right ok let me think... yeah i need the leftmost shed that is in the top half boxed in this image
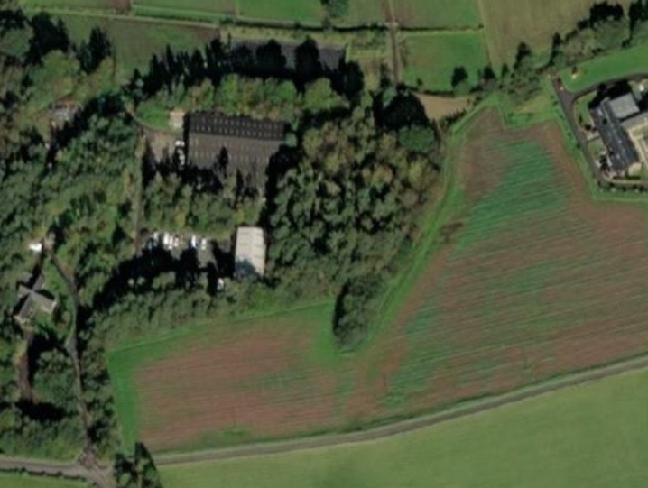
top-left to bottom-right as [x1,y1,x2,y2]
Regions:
[54,104,78,125]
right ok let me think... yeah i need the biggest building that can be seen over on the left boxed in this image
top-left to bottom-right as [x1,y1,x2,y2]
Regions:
[185,108,287,185]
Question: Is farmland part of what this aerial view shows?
Yes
